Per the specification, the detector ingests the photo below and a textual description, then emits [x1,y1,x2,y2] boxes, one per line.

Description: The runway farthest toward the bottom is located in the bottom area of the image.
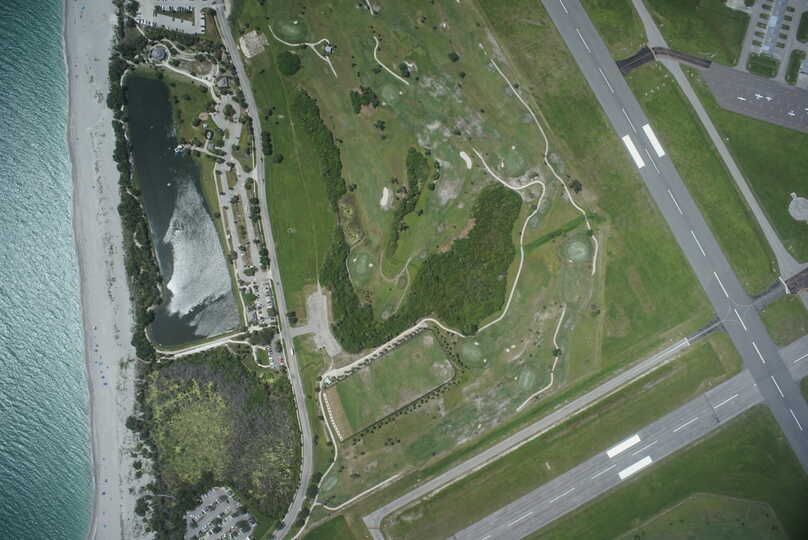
[445,369,765,540]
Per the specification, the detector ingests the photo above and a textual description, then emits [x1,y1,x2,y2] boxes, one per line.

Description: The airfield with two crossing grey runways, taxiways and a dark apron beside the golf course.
[321,0,808,540]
